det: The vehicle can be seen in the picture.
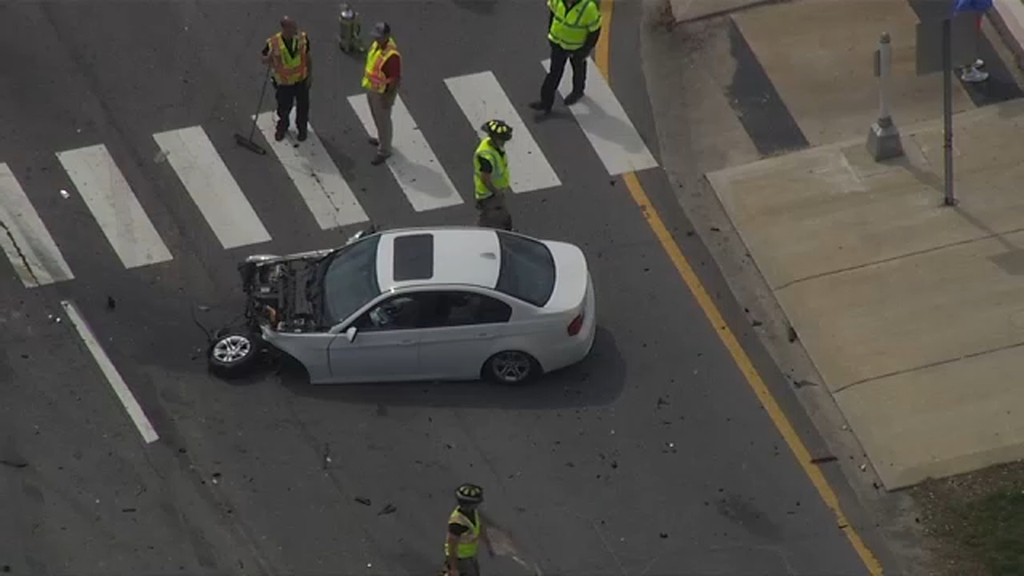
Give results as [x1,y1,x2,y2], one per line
[203,226,596,386]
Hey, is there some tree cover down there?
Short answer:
No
